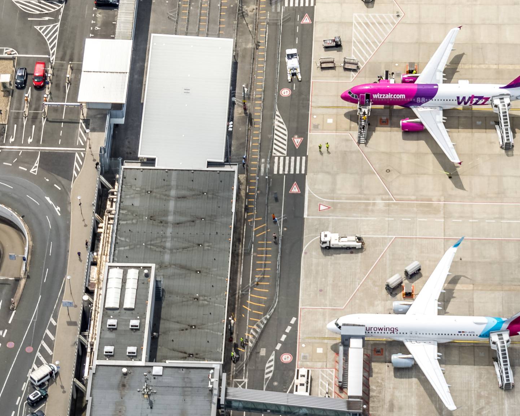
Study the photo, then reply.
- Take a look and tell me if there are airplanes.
Yes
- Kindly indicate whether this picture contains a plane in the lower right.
Yes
